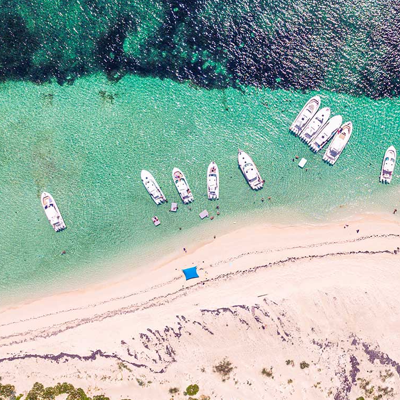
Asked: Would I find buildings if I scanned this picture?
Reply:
No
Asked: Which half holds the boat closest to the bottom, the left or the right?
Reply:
left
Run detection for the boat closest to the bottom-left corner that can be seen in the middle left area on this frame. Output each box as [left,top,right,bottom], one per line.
[42,193,67,235]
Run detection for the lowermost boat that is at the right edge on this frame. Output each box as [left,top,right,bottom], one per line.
[380,146,396,184]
